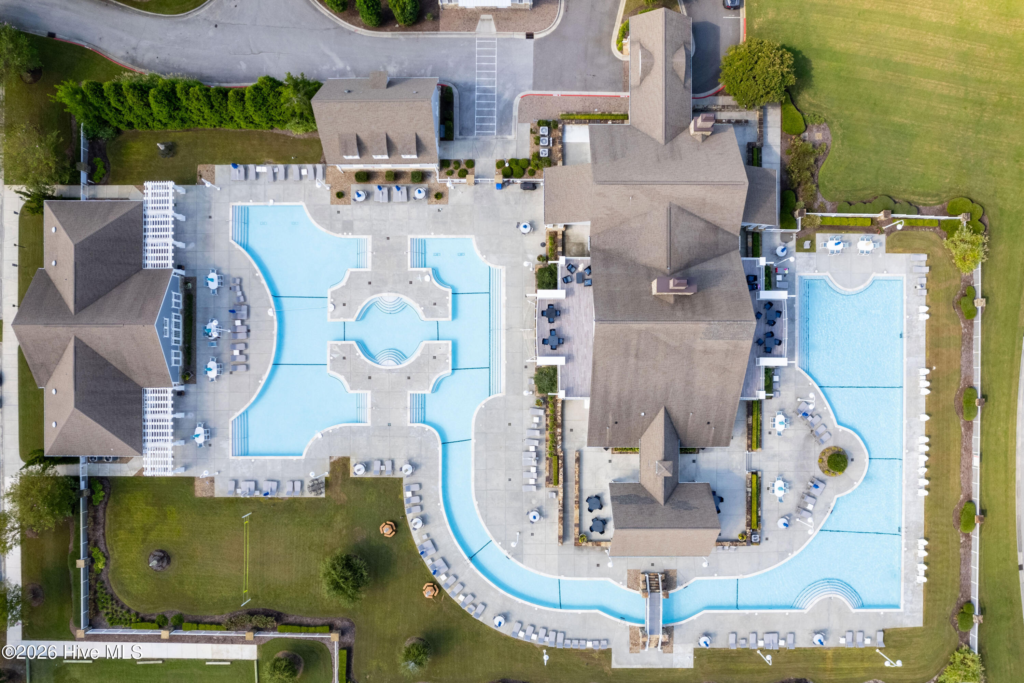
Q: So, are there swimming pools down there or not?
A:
Yes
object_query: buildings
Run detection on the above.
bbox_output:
[311,69,440,169]
[436,0,535,18]
[13,200,186,457]
[543,8,778,557]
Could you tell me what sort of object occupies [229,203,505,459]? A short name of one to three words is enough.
swimming pool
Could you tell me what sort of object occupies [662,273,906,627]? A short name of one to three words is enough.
swimming pool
